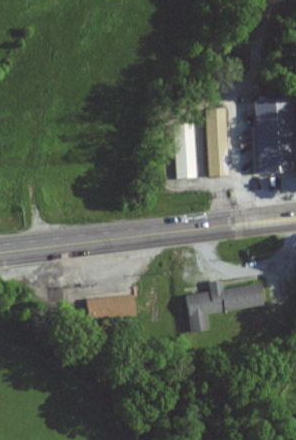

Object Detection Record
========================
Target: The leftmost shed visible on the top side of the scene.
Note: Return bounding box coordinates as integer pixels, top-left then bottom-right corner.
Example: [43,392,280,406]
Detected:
[175,122,198,180]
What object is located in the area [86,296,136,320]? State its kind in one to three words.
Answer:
house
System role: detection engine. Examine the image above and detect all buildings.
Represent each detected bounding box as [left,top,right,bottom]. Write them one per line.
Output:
[86,296,136,320]
[186,280,262,332]
[175,122,198,180]
[206,108,228,178]
[253,102,296,174]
